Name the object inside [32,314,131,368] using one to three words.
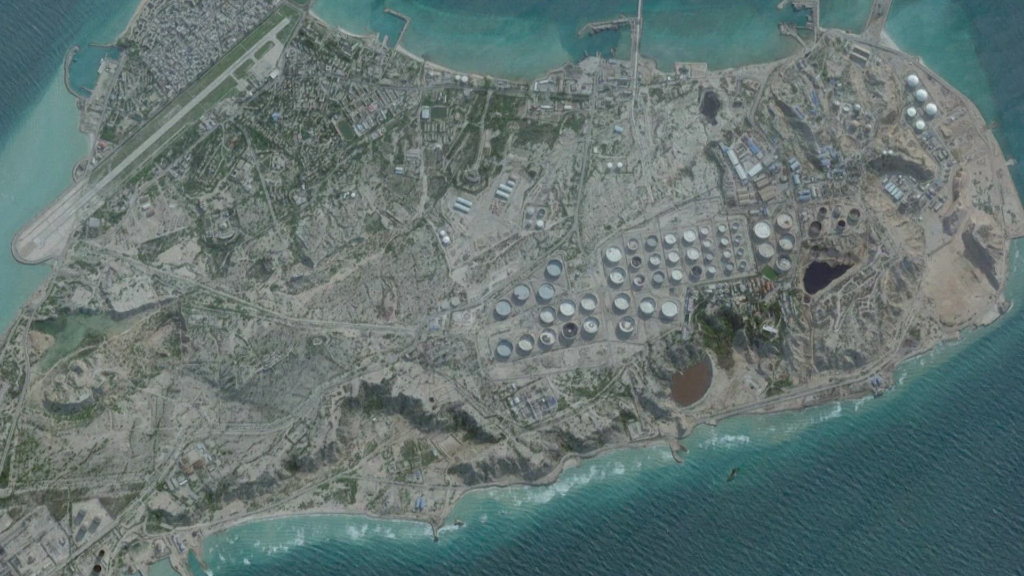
pond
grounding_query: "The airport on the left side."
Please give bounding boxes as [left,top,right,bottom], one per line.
[14,4,299,262]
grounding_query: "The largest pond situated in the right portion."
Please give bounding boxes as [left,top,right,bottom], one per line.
[670,354,713,407]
